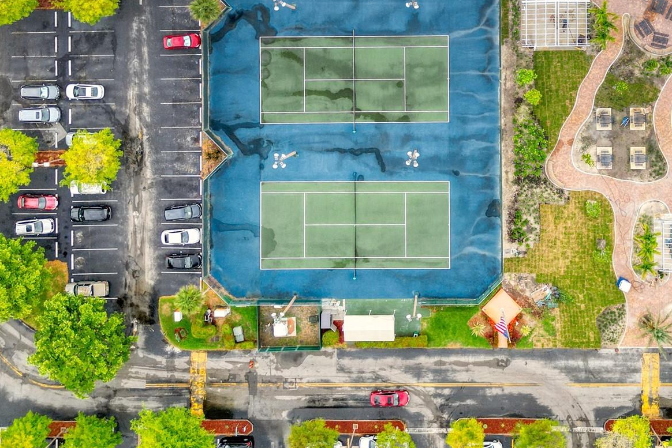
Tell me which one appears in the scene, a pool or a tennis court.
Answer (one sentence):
Of the two, only a tennis court appears.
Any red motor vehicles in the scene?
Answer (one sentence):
Yes, a red motor vehicle can be made out from above.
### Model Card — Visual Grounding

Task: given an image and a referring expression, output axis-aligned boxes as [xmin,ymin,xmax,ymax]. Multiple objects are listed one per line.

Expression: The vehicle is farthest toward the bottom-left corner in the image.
[66,279,111,297]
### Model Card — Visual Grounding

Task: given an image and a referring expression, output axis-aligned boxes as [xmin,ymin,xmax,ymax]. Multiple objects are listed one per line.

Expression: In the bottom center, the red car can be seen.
[371,388,410,408]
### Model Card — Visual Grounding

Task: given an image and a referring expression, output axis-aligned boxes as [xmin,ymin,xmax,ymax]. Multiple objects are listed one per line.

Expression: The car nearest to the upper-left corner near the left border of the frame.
[21,83,61,100]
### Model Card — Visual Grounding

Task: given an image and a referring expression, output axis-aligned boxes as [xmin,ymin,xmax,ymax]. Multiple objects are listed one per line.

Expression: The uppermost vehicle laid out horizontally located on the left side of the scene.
[163,32,202,50]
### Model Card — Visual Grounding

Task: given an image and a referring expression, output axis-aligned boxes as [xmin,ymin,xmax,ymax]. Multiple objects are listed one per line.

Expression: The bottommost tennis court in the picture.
[261,172,450,282]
